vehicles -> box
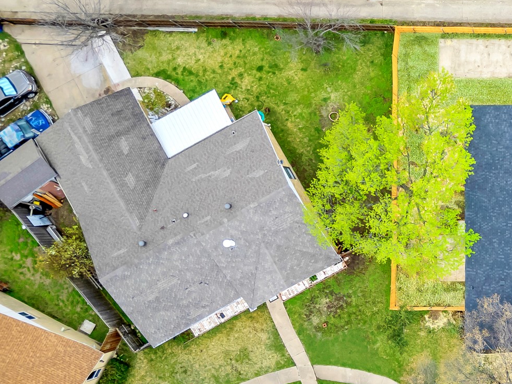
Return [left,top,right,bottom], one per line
[0,107,55,157]
[0,69,43,118]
